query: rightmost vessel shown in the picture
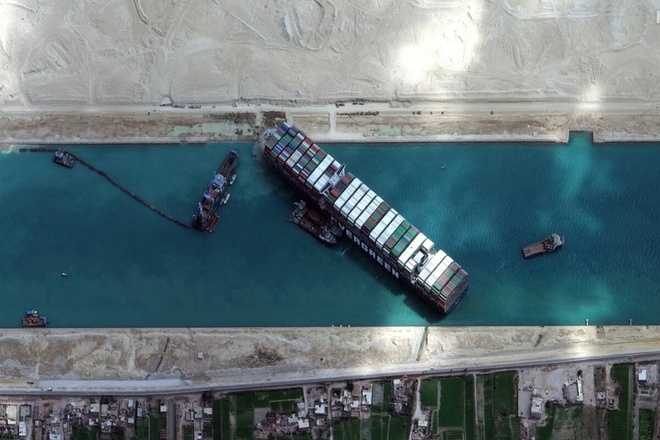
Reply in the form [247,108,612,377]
[521,233,563,258]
